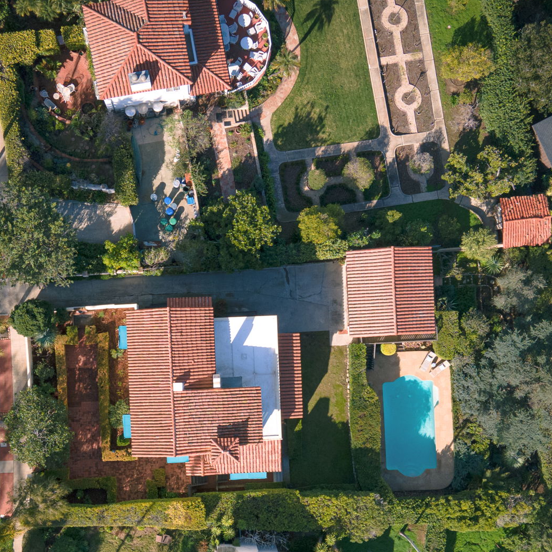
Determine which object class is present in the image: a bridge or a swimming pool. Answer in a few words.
swimming pool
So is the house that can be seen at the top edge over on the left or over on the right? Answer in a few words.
left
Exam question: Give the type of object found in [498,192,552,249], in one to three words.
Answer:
building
